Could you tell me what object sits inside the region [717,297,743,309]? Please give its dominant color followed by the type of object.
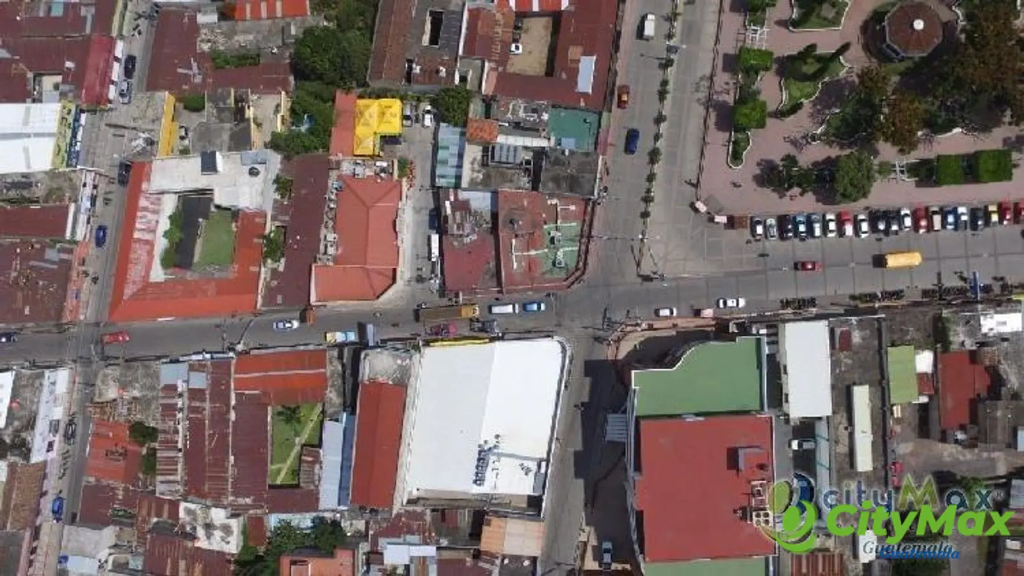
white vehicle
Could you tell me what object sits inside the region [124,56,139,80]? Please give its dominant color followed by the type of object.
black car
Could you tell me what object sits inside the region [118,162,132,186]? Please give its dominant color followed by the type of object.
black car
